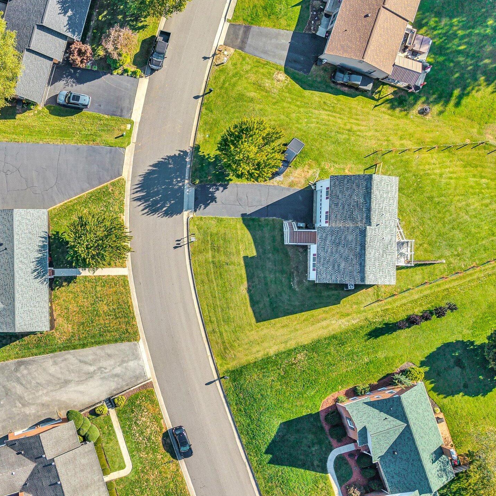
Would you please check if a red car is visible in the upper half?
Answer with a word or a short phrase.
No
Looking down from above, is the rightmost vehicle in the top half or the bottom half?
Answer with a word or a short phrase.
top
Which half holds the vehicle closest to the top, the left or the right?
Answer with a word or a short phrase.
left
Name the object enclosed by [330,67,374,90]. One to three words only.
vehicle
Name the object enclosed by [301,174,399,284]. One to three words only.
house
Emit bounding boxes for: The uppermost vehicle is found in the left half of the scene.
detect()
[150,27,175,71]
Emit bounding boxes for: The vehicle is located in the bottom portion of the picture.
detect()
[172,425,192,459]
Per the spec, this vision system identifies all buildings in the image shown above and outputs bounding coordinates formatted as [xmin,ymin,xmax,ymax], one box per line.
[0,209,50,332]
[333,380,458,496]
[301,174,399,284]
[317,0,420,78]
[0,415,109,496]
[0,0,92,106]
